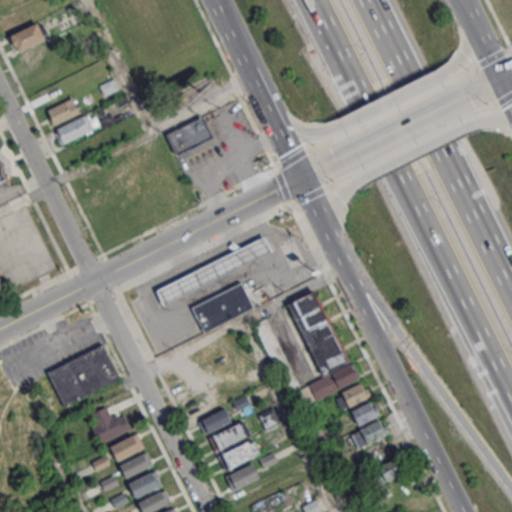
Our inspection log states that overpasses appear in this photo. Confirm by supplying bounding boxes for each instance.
[282,28,512,254]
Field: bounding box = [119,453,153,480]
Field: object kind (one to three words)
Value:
house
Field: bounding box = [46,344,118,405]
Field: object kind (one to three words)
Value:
building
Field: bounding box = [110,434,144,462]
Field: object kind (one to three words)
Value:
house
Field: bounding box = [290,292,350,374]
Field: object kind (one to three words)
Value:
building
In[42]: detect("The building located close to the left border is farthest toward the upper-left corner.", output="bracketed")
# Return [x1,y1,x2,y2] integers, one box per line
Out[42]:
[10,22,44,51]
